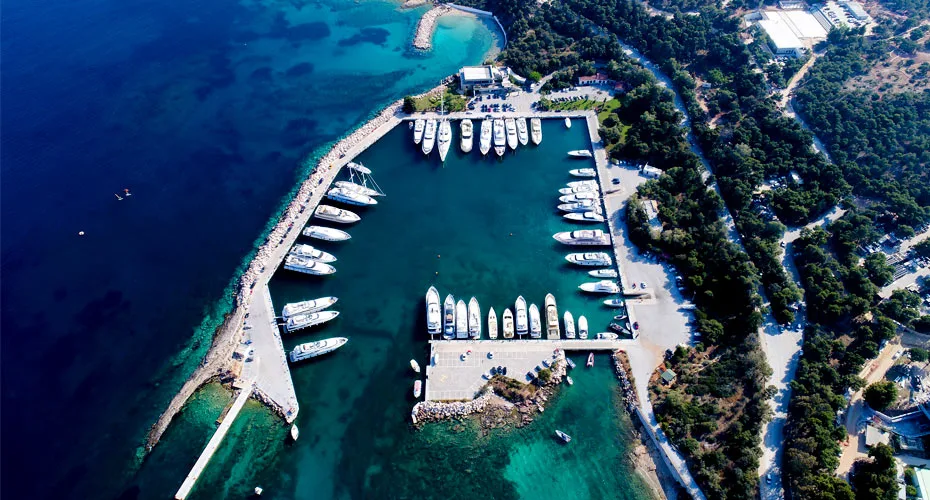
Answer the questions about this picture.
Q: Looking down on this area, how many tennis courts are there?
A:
0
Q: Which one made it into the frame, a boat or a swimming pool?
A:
boat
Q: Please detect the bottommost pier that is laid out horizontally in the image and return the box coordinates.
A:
[412,339,632,419]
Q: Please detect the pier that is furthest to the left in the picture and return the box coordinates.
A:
[176,383,255,500]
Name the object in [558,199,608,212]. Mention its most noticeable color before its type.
white boat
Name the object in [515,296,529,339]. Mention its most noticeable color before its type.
white boat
